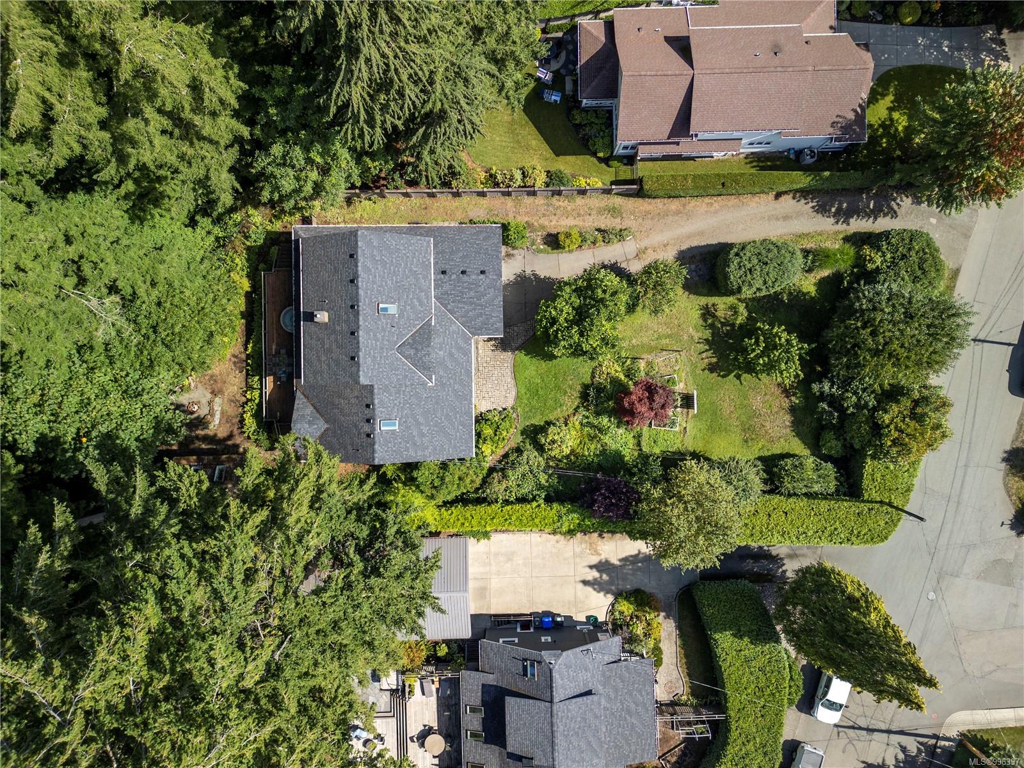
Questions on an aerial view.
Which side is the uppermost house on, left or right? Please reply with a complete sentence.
The uppermost house appears in the right half of the scene.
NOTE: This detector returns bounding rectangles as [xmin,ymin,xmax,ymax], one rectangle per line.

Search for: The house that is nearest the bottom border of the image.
[459,617,659,768]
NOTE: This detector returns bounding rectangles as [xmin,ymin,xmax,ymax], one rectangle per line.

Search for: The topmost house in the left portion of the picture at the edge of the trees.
[287,224,504,470]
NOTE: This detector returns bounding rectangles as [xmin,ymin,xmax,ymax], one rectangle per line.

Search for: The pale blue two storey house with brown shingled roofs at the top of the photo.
[577,0,874,157]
